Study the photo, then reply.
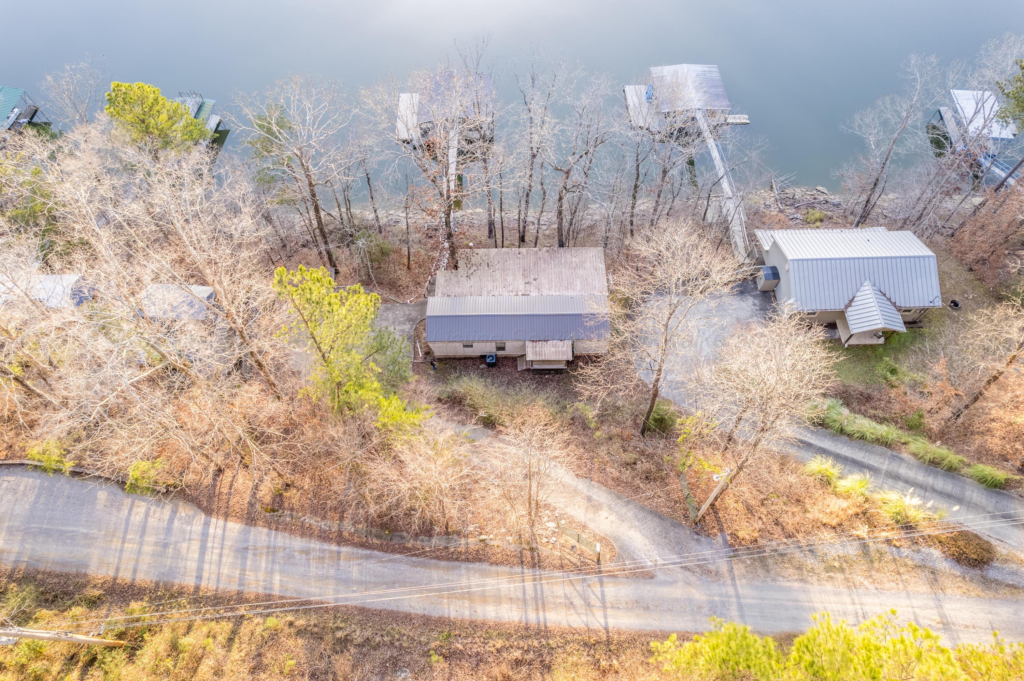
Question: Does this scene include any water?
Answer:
Yes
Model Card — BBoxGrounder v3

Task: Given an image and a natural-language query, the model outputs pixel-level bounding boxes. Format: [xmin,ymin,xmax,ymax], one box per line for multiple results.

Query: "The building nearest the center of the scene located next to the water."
[421,247,611,373]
